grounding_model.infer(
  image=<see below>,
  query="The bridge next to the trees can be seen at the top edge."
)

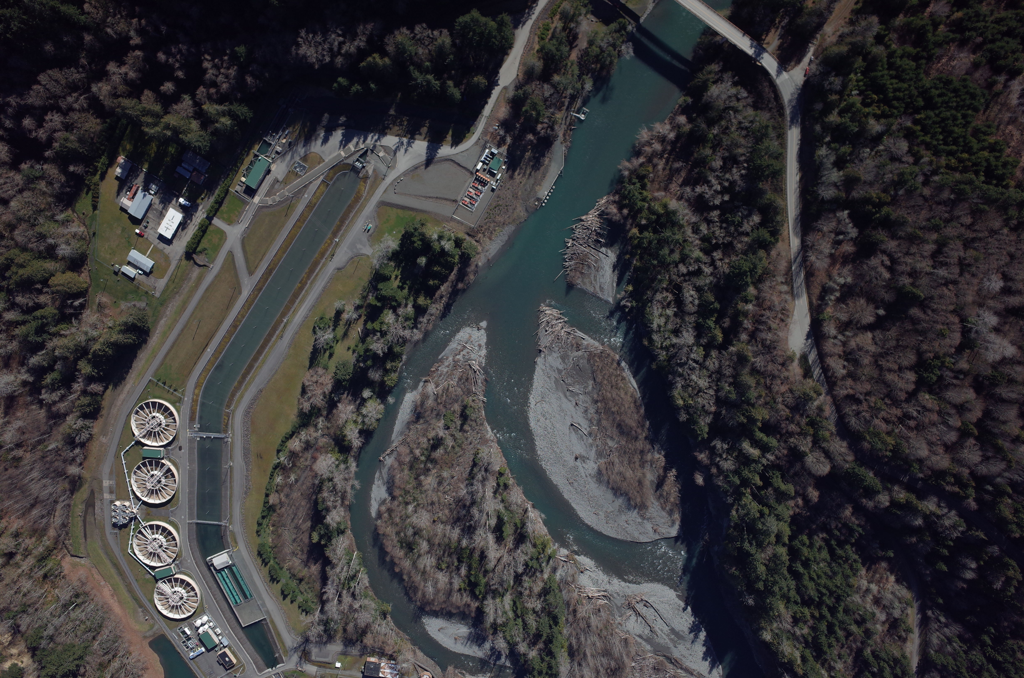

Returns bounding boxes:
[670,0,774,66]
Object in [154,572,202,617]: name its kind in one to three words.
storage tank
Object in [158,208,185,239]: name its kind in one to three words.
building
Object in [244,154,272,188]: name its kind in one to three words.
house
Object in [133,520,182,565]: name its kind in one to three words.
storage tank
